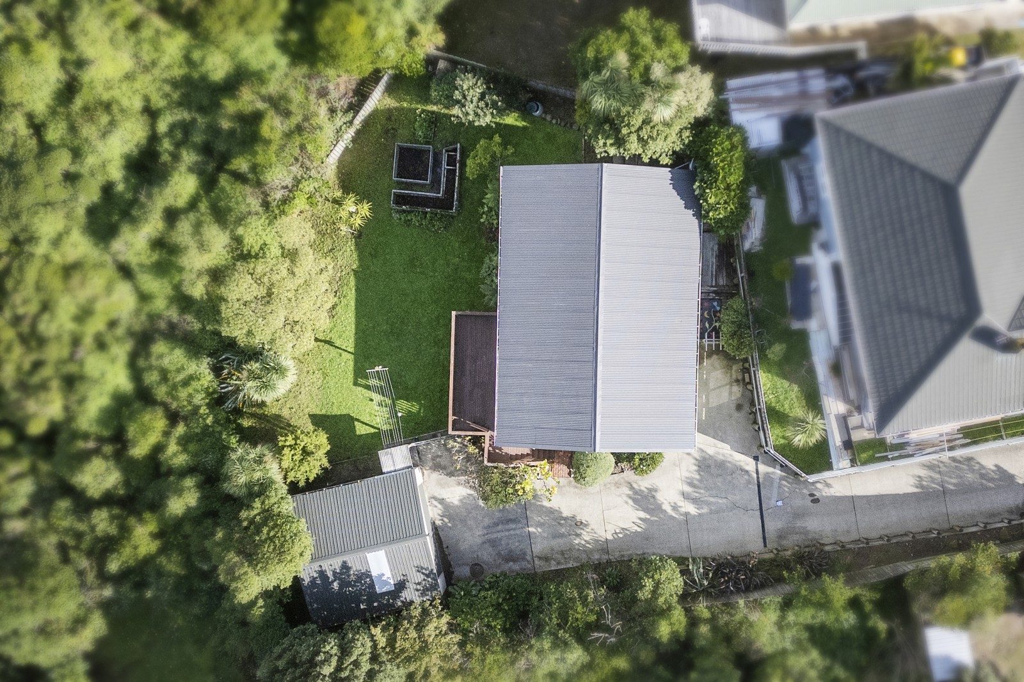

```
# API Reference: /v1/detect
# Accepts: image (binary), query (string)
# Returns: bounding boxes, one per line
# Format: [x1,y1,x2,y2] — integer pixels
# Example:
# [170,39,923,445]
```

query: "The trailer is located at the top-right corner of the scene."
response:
[834,50,904,95]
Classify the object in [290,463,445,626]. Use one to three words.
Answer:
building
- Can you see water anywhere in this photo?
No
